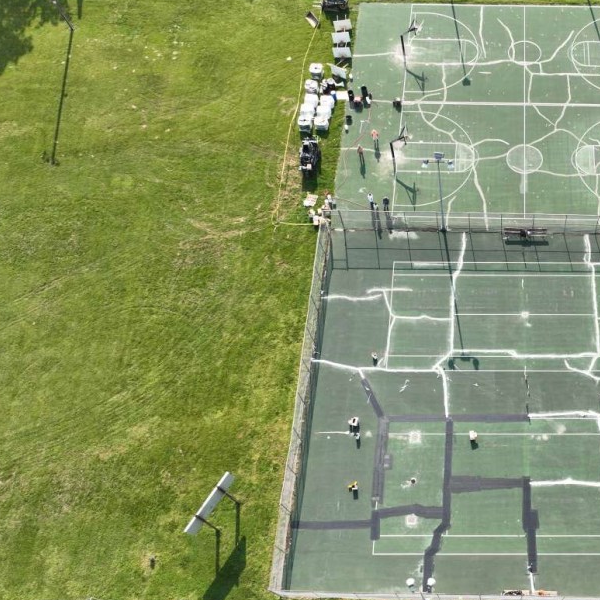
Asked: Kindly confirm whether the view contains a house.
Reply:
No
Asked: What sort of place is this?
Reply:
sports ground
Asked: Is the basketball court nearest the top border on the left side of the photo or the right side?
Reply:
right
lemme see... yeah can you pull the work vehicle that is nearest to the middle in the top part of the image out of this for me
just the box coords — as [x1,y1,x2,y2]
[295,142,319,171]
